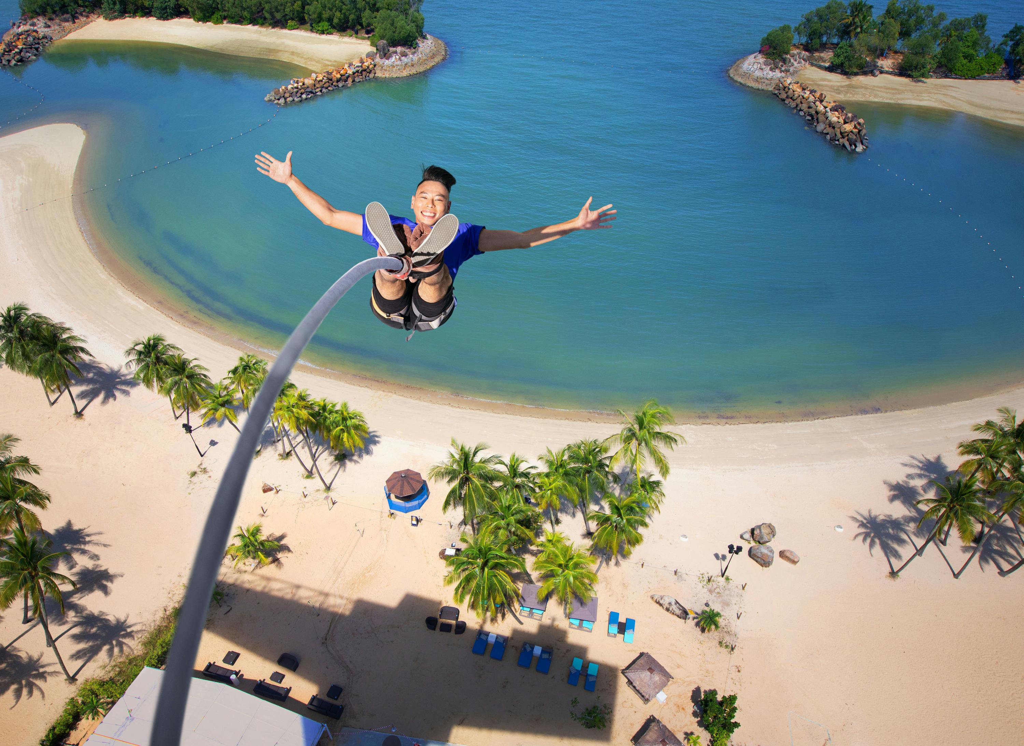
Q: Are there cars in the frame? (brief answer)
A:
No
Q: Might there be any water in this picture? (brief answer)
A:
Yes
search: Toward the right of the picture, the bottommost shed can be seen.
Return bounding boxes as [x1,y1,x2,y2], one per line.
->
[632,718,685,746]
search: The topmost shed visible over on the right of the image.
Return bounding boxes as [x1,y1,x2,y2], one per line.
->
[619,651,675,711]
